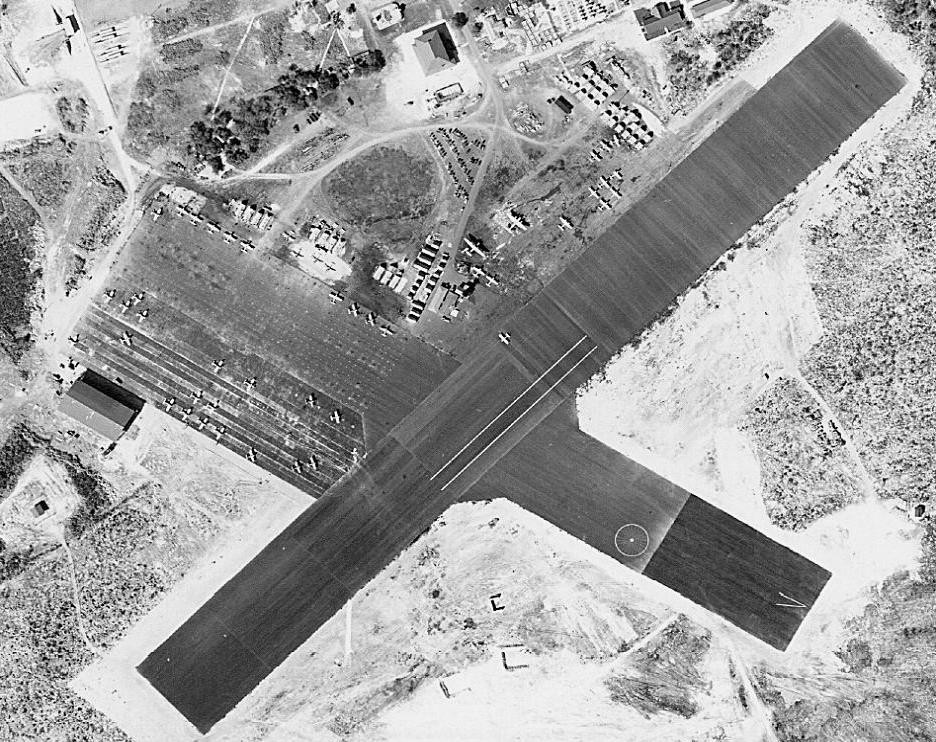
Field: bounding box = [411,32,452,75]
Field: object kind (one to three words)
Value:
building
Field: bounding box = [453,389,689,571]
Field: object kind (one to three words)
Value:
runway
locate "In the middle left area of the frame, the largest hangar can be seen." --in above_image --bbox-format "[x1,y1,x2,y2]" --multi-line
[60,377,137,441]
